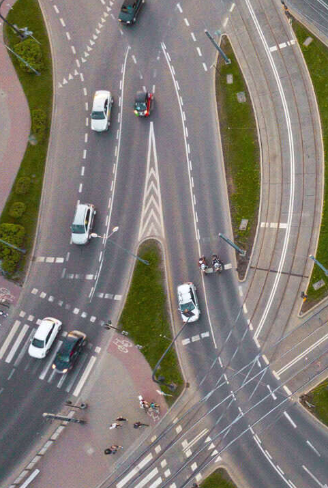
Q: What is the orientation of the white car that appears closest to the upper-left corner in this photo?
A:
vertically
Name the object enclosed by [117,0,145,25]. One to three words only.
car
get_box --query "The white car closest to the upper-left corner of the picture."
[91,91,114,131]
